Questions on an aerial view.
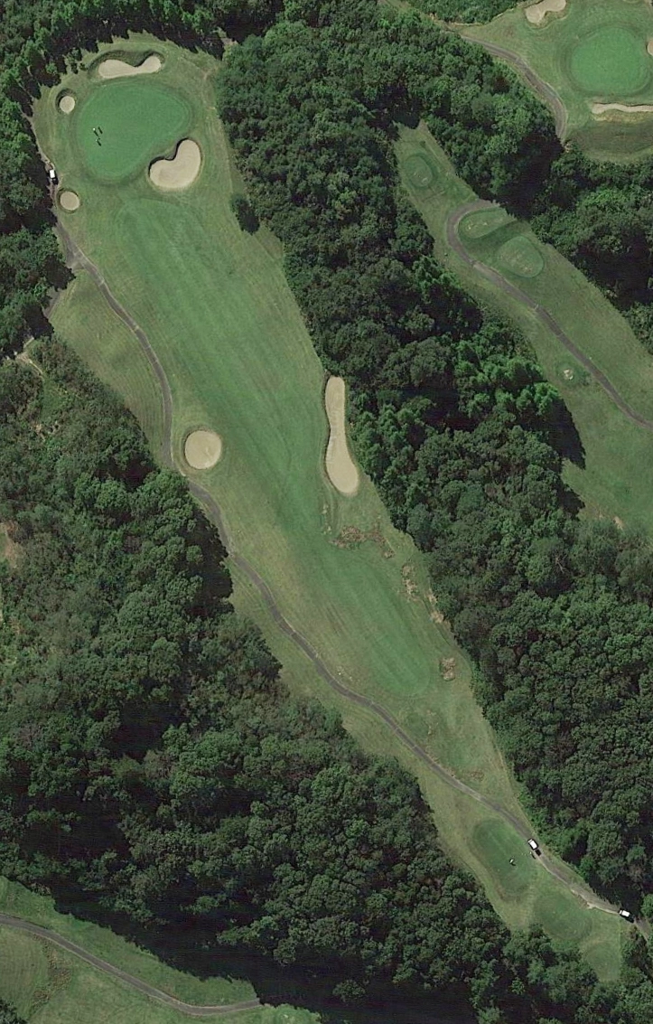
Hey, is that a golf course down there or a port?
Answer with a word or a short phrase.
golf course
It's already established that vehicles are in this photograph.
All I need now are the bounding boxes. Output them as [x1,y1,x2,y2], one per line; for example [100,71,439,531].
[50,170,56,180]
[620,909,631,917]
[529,839,538,850]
